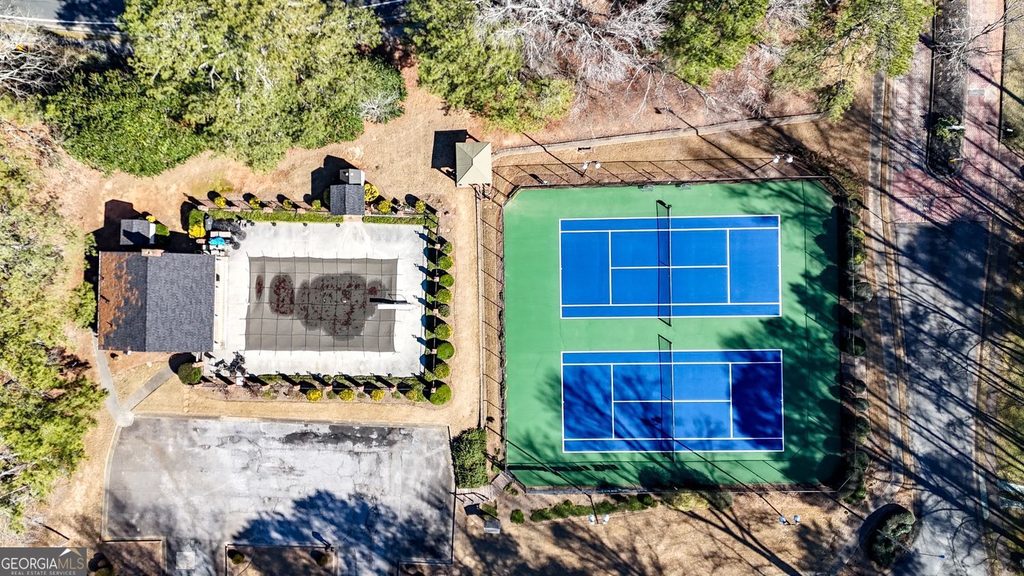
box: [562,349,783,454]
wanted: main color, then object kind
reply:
blue tennis court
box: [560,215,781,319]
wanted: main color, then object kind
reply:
blue tennis court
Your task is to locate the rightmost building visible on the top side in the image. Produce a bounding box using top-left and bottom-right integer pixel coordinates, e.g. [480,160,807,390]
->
[456,142,492,188]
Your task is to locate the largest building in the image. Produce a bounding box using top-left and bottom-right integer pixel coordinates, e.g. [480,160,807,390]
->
[99,246,235,358]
